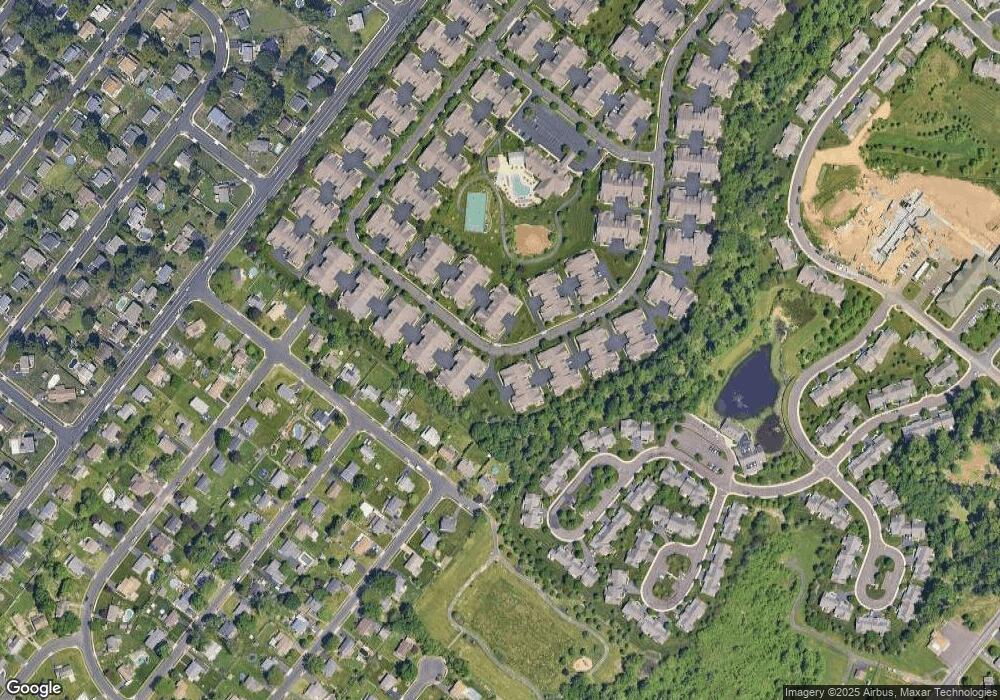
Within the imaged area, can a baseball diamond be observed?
Yes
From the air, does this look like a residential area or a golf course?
residential area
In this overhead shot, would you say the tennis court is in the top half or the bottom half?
top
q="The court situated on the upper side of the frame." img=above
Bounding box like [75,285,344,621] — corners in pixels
[465,192,487,233]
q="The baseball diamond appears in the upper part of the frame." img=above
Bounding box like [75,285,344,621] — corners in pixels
[516,225,551,256]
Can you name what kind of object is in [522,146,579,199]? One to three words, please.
building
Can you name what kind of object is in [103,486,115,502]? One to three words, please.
swimming pool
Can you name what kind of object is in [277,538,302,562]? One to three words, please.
house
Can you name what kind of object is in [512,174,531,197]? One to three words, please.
swimming pool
